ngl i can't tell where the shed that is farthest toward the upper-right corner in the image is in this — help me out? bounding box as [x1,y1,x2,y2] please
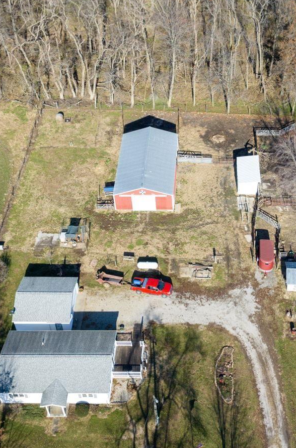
[237,156,261,194]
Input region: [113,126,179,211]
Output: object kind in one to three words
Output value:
barn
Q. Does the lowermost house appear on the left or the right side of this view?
left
